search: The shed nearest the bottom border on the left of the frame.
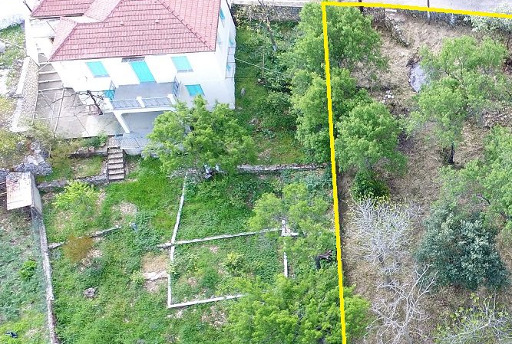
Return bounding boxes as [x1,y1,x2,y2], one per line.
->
[7,171,41,221]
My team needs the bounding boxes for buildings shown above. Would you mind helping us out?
[26,0,236,171]
[7,171,41,221]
